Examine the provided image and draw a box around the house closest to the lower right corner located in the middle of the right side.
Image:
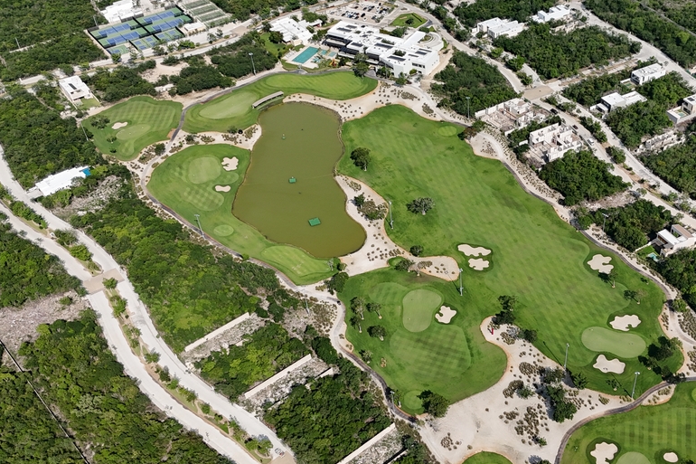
[635,222,696,257]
